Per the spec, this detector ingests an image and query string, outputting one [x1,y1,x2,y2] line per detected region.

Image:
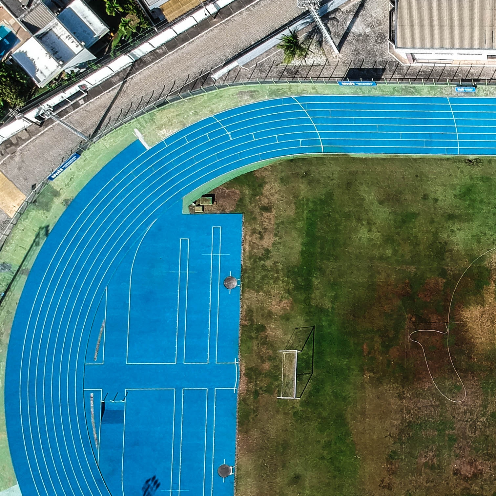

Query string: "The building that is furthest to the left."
[2,0,117,97]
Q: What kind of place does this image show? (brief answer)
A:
sports ground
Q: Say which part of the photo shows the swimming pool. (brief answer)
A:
top left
